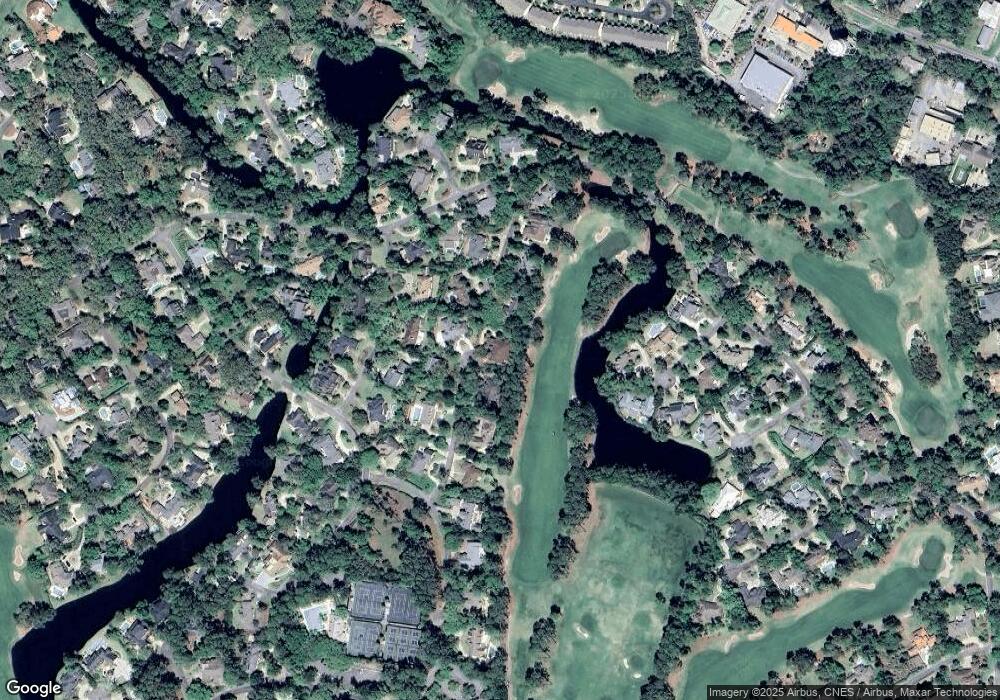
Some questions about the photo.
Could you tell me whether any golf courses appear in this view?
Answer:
Yes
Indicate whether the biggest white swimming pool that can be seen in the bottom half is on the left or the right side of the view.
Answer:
left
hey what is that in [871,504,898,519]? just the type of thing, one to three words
house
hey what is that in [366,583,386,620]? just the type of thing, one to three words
tennis court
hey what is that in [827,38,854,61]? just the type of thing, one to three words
water tower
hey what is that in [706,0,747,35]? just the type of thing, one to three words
building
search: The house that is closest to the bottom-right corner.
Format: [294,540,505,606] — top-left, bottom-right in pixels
[948,669,977,685]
